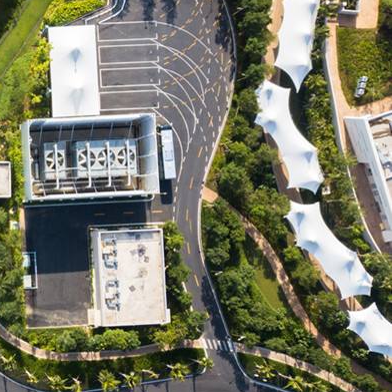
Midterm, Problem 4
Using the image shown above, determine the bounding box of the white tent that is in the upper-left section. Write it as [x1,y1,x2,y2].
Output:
[43,26,100,117]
